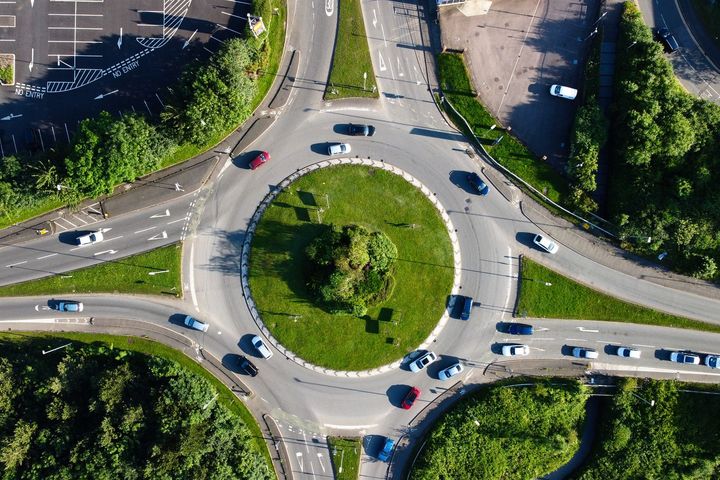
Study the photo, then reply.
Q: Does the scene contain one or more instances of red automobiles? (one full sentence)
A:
Yes, there is a red automobile in the image.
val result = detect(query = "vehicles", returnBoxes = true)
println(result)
[328,142,352,155]
[348,122,375,136]
[501,344,529,357]
[409,351,437,373]
[401,386,421,410]
[461,295,475,320]
[377,436,394,461]
[58,301,83,313]
[509,322,535,335]
[617,346,641,358]
[534,233,560,254]
[551,82,581,98]
[669,351,700,364]
[184,316,210,332]
[437,361,465,381]
[572,346,599,359]
[468,173,490,195]
[706,354,720,368]
[236,358,259,379]
[249,150,271,170]
[252,335,271,359]
[77,231,104,246]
